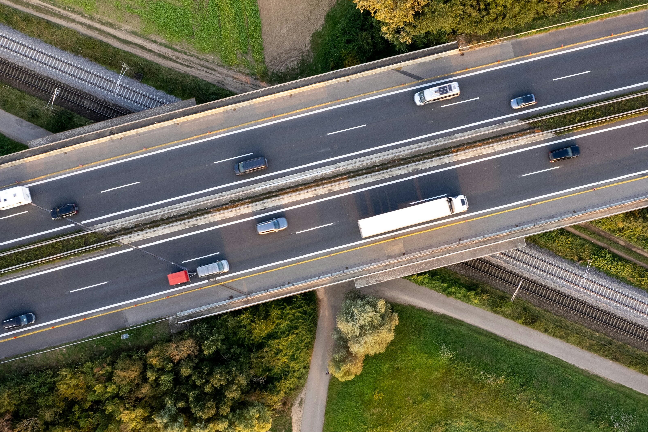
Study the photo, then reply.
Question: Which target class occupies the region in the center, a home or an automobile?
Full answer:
The one visible in the center is an automobile.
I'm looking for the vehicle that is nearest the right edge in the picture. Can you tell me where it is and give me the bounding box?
[546,145,580,163]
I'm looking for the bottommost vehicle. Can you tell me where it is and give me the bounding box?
[2,312,37,330]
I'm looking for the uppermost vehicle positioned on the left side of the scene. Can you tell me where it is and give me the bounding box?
[233,157,268,175]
